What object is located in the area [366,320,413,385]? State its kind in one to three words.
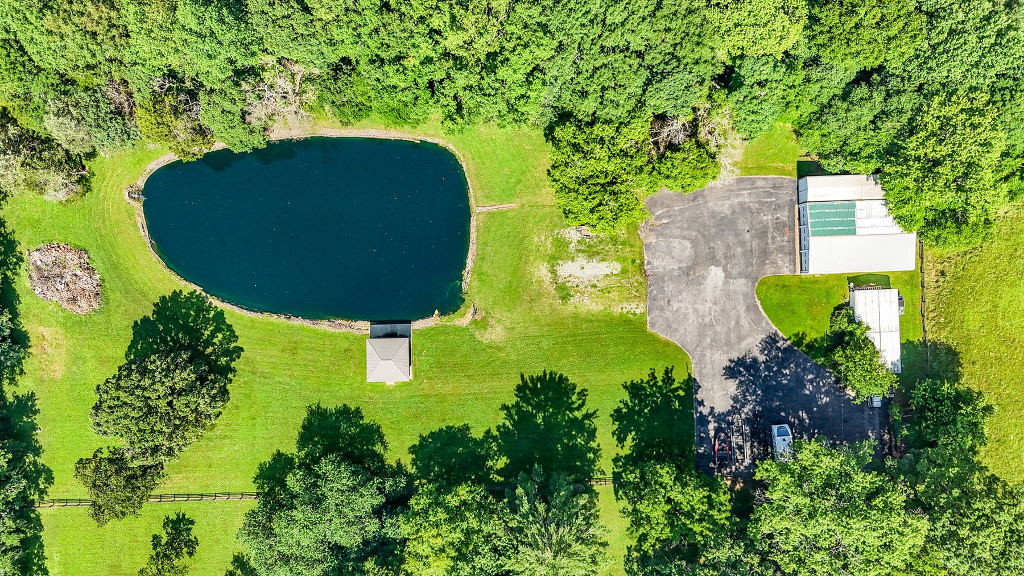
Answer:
building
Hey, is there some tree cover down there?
Yes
